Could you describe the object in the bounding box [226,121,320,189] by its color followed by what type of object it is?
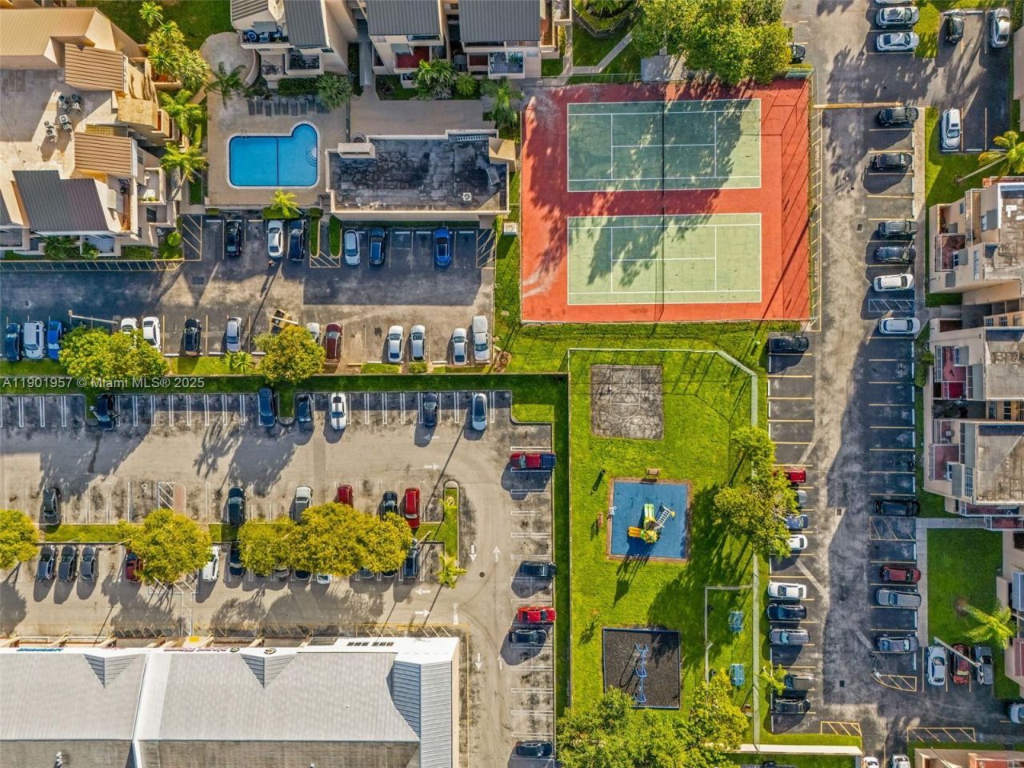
blue swimming pool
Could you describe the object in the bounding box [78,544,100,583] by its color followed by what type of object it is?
gray car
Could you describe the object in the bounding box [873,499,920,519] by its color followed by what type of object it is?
black vehicle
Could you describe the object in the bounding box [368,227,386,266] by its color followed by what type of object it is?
blue car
